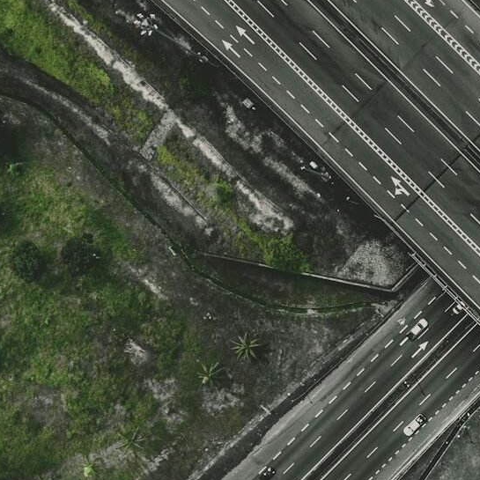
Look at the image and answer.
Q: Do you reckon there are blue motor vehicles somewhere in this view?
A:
No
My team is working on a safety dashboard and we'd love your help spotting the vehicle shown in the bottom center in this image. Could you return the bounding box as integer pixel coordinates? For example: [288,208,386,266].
[255,464,276,480]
